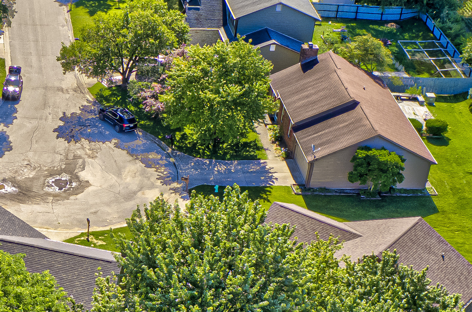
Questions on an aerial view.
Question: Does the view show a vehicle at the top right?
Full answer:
No, there is no vehicle at the top right.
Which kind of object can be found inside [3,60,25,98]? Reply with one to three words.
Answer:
car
